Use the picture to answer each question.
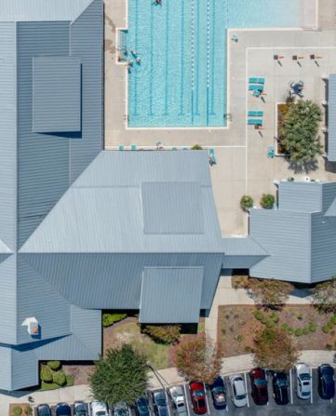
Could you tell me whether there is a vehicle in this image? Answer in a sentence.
Yes, looking at the shot, I can spot a vehicle.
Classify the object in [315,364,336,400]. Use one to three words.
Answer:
car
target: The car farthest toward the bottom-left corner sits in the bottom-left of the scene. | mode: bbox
[36,399,52,416]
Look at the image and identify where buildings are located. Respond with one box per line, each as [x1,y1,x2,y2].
[323,74,336,162]
[0,0,225,392]
[236,179,336,284]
